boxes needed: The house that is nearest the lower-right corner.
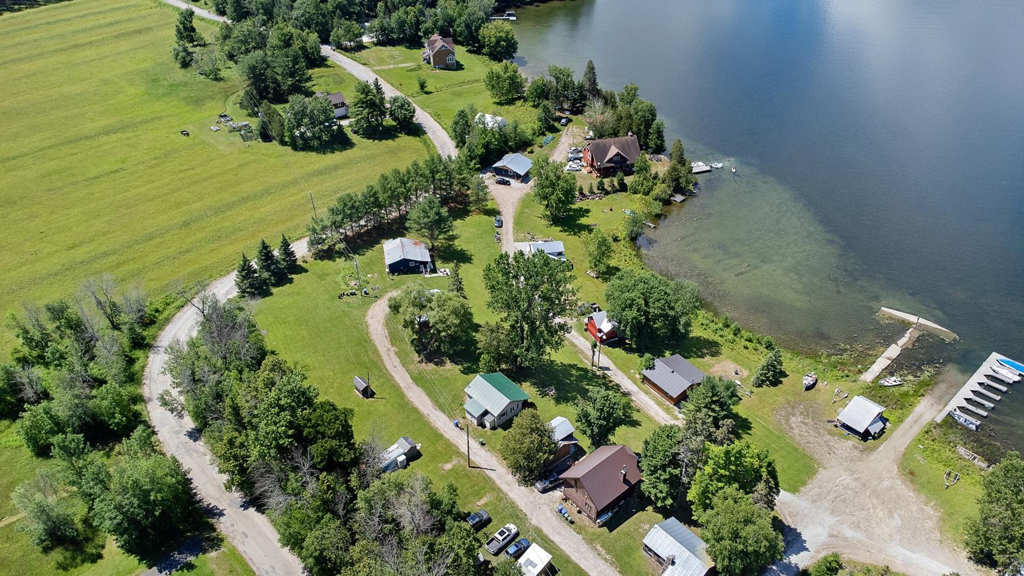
[837,395,885,446]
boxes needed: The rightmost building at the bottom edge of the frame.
[639,519,718,576]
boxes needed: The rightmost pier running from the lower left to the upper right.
[933,352,1024,425]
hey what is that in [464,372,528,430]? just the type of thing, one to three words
house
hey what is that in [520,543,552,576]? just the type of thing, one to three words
shed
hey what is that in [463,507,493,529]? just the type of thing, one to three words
car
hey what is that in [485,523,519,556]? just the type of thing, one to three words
truck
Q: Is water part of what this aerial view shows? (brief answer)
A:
Yes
